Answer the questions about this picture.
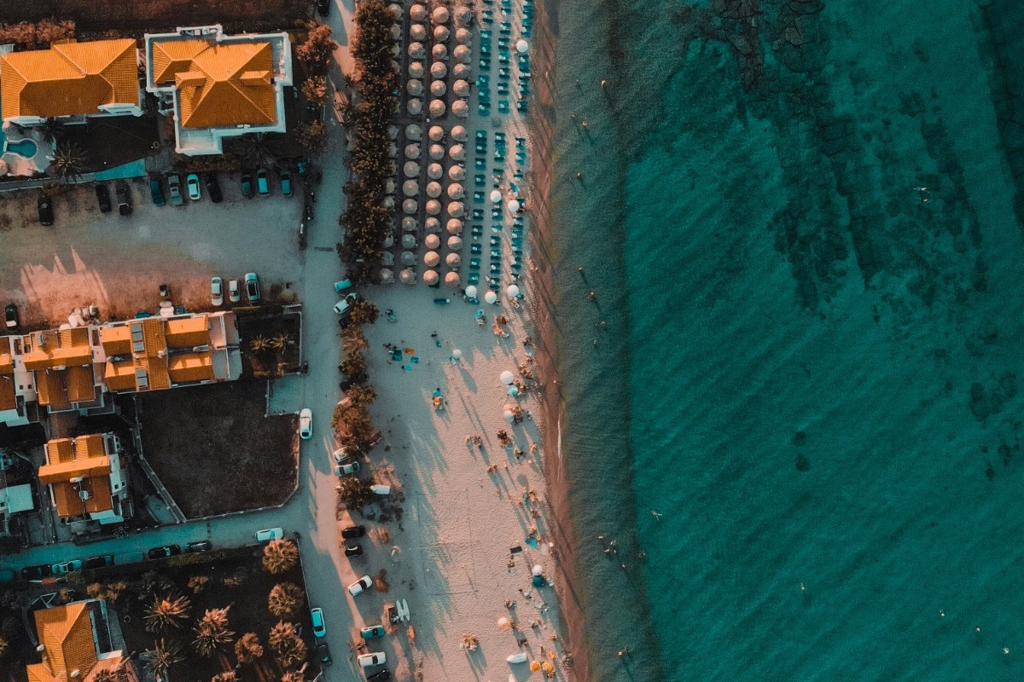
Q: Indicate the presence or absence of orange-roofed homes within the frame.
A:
Yes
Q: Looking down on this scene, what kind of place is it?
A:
beach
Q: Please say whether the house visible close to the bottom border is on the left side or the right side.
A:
left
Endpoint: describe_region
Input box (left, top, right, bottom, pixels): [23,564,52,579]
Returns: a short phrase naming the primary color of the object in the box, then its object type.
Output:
black car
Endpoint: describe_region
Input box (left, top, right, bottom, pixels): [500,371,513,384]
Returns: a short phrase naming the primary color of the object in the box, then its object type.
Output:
white umbrella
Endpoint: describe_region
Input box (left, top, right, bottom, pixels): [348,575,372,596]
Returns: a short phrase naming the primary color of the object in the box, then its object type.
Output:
white car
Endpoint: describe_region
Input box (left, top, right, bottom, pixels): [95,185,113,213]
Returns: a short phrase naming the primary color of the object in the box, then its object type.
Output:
black car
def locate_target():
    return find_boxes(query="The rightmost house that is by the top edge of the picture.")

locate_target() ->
[144,22,300,162]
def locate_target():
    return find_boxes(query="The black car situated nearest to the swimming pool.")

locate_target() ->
[38,194,55,224]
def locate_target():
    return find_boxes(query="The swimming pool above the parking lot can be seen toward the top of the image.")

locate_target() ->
[3,138,38,157]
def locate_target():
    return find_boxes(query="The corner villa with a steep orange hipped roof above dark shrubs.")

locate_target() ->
[26,596,133,682]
